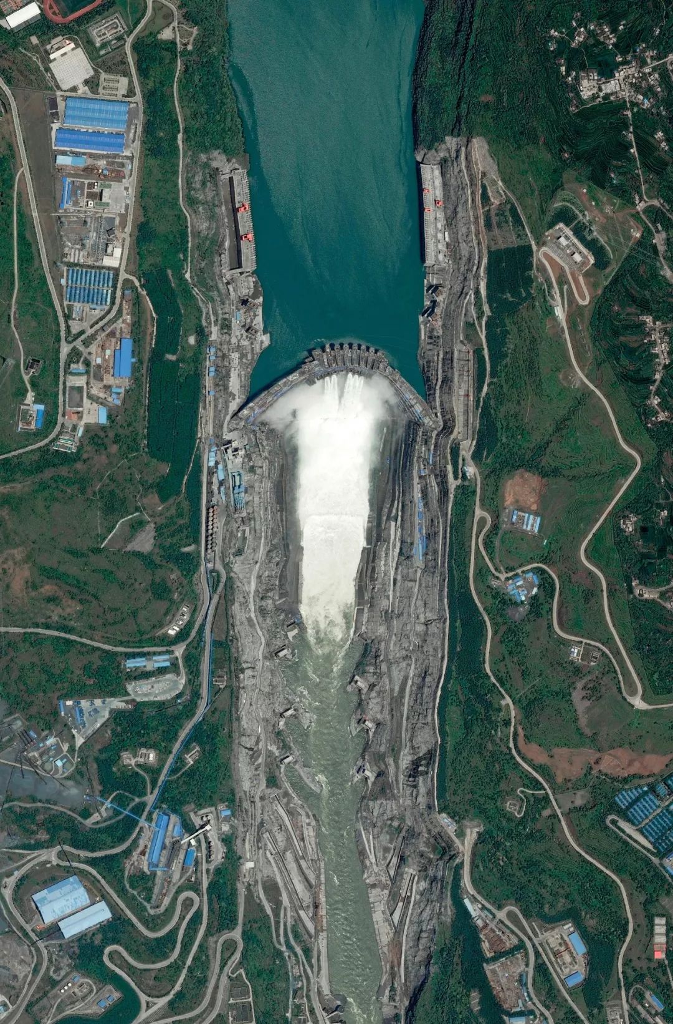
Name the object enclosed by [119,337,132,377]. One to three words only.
building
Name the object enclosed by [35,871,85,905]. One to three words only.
building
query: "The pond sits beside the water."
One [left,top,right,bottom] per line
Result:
[227,0,429,407]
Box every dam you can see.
[229,344,442,432]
